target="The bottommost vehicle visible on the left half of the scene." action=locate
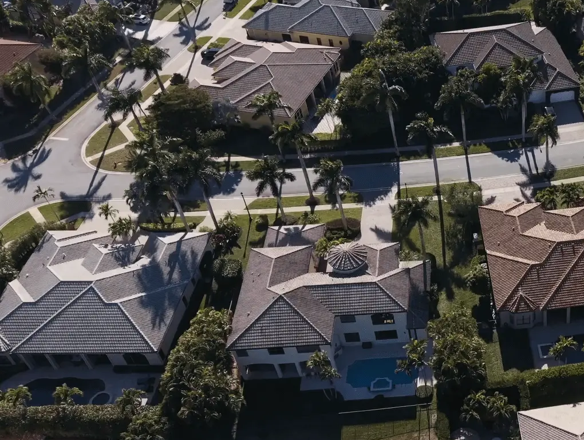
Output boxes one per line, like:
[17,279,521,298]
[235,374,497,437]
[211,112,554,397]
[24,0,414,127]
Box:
[199,44,225,60]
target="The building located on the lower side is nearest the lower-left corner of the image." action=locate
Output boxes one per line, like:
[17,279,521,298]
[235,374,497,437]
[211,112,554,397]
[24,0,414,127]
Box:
[0,230,209,373]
